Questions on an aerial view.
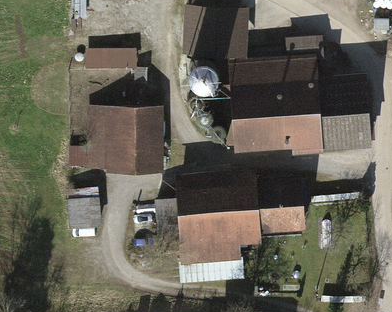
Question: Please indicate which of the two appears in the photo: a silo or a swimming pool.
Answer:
silo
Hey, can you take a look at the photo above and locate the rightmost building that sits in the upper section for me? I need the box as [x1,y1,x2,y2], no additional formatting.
[324,73,372,151]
